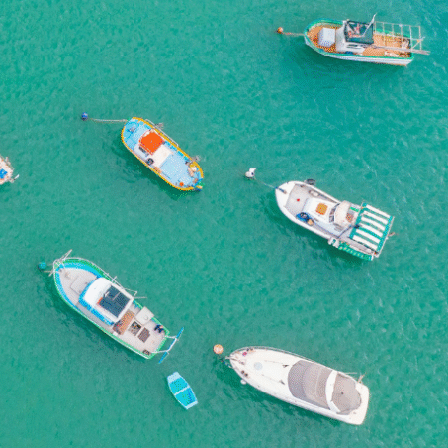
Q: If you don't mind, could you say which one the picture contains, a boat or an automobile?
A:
boat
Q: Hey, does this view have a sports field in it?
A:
No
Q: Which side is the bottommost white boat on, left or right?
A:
right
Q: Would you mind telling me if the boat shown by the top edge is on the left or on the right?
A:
right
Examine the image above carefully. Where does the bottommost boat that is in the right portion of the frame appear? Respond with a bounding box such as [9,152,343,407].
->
[229,344,368,425]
